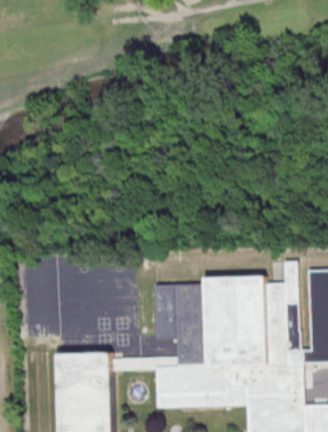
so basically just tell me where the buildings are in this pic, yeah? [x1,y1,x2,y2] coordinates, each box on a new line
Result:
[54,352,116,432]
[156,260,328,432]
